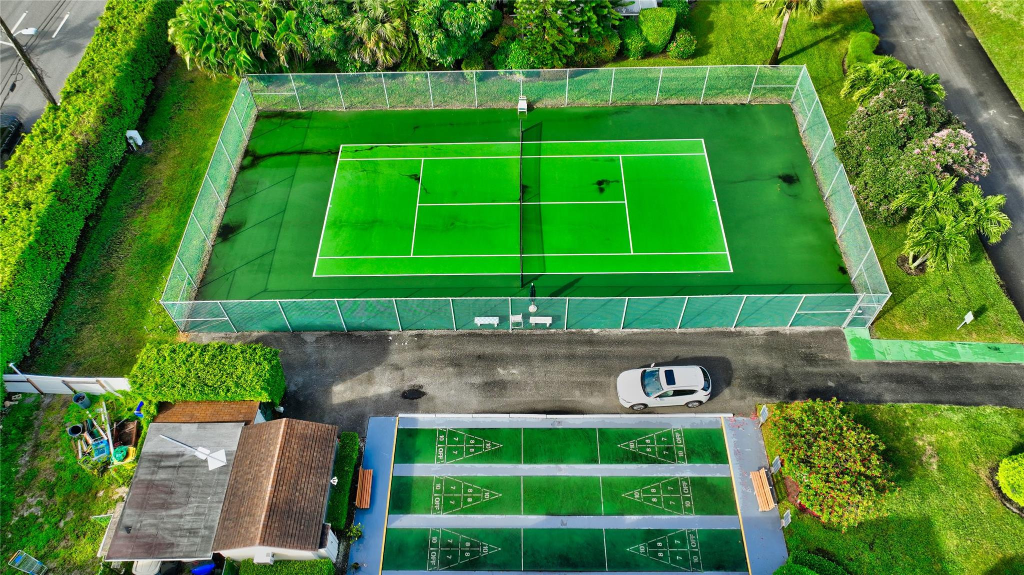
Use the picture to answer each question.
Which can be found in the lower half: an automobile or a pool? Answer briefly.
automobile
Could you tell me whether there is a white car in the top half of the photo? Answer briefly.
No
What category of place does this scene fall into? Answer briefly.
sports ground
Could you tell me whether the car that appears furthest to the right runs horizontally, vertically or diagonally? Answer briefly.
horizontally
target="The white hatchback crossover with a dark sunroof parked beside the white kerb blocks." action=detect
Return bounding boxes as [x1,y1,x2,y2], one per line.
[618,361,713,407]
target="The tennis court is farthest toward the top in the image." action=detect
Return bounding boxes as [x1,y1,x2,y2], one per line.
[186,103,866,331]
